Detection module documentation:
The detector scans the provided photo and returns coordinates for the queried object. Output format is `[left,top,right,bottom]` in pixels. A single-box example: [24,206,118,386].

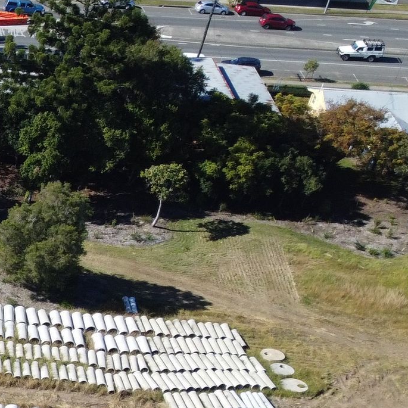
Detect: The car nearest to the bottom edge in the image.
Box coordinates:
[224,53,264,70]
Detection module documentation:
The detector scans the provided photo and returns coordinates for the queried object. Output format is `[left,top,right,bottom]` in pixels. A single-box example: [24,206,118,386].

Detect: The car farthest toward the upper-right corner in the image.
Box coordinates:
[260,11,298,30]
